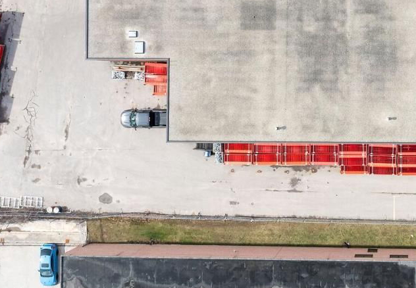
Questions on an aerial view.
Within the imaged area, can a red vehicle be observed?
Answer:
No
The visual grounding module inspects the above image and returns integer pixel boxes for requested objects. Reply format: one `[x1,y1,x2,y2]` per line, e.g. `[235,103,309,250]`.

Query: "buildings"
[62,243,416,288]
[86,0,416,143]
